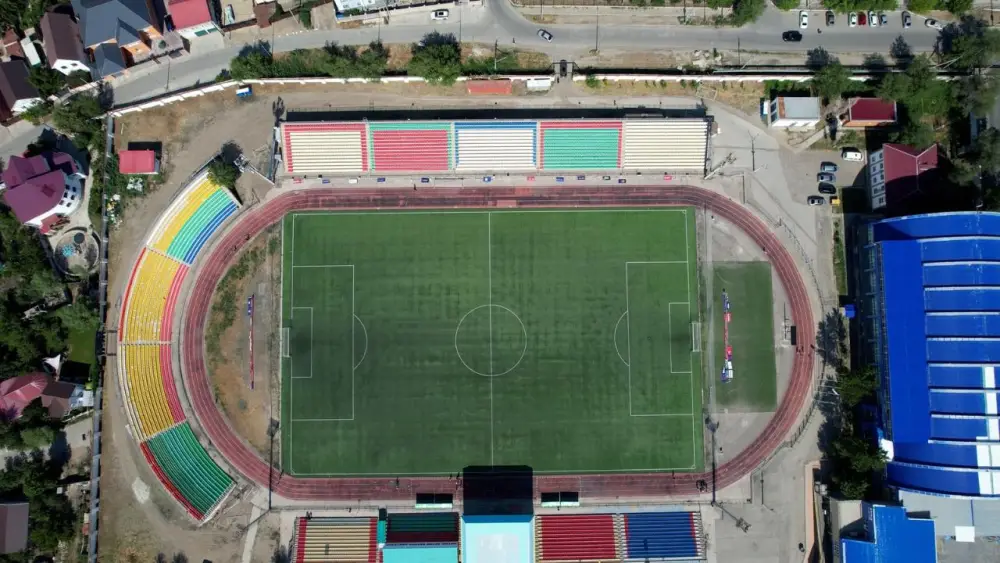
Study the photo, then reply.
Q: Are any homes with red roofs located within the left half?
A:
Yes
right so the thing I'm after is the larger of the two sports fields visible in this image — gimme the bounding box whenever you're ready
[280,208,706,476]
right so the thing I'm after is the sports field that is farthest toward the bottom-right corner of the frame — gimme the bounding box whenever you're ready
[714,261,777,414]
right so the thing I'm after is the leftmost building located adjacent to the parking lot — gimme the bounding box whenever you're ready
[771,97,820,124]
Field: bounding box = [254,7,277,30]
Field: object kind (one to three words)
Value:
shed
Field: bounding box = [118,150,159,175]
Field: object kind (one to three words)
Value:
shed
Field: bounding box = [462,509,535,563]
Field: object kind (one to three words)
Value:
building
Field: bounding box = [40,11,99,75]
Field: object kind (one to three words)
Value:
house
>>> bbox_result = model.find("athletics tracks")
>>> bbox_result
[183,184,817,502]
